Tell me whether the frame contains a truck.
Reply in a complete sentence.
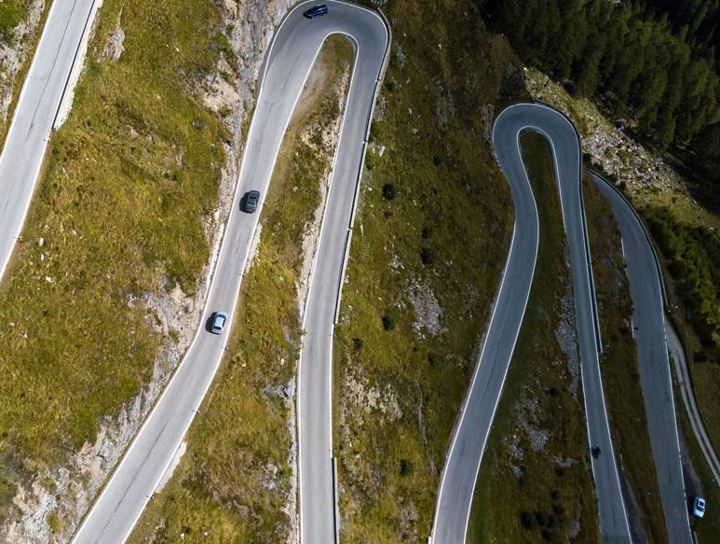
No, I can't see a single truck in this photo.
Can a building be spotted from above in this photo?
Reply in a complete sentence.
No, the photo shows no building.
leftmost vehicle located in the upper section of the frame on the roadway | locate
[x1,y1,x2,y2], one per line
[242,191,257,212]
